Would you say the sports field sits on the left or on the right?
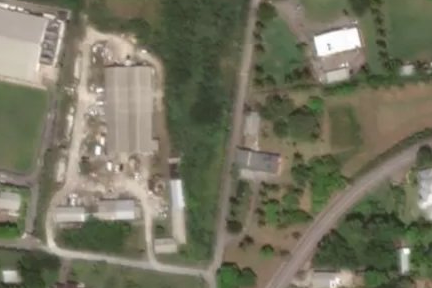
left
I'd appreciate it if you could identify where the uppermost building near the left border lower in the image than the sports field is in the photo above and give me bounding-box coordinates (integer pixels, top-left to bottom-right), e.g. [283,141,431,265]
[0,193,20,211]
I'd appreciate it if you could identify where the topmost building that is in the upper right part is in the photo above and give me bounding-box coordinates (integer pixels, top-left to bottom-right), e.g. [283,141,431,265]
[314,28,361,56]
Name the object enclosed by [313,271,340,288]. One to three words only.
house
